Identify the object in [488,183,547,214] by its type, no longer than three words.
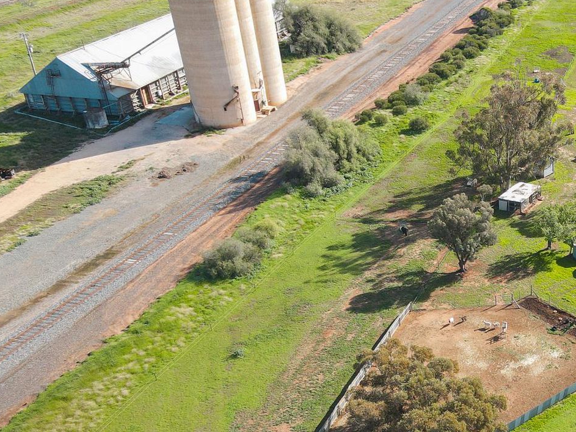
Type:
shed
